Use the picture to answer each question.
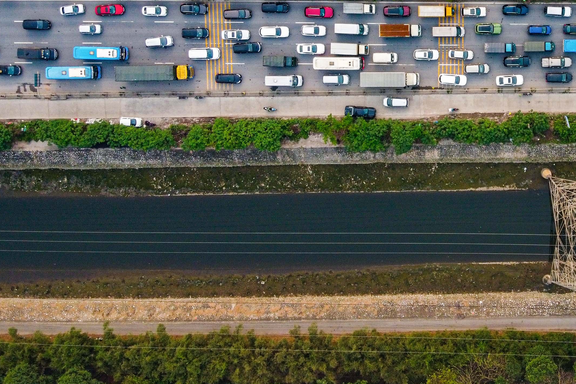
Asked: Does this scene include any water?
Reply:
Yes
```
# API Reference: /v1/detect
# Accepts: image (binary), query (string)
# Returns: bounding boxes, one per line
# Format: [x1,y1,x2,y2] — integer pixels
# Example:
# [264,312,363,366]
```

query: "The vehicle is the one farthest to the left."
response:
[0,64,22,77]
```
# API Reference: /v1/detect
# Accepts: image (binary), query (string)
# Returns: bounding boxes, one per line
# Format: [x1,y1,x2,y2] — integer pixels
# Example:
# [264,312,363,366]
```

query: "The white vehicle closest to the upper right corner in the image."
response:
[543,5,572,18]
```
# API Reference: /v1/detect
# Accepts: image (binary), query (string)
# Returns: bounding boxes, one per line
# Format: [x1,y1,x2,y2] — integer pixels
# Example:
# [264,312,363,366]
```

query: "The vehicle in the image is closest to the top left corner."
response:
[23,18,52,31]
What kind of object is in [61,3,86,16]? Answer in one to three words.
vehicle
